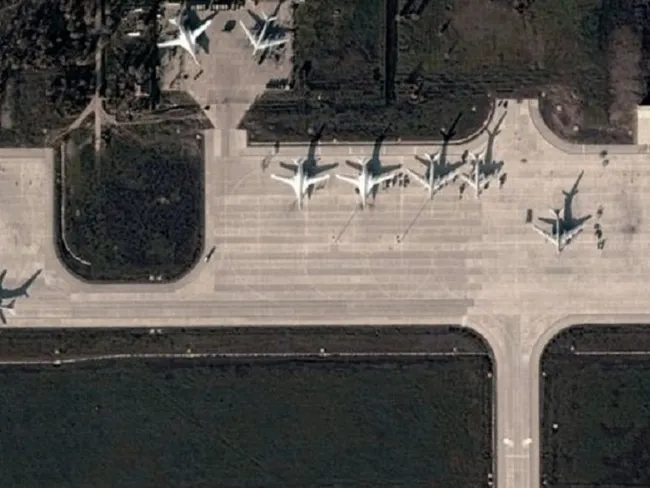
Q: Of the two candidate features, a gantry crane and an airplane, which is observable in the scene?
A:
airplane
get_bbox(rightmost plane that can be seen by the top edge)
[241,10,289,56]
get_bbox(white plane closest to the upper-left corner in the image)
[157,18,208,67]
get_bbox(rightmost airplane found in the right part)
[532,206,584,256]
